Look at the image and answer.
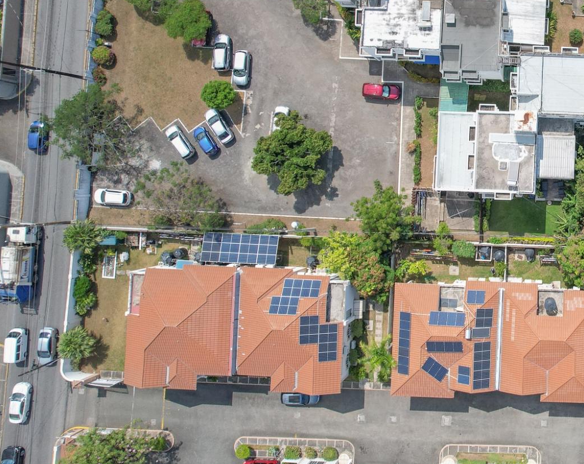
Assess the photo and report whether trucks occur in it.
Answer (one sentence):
Yes, there is a truck in the image.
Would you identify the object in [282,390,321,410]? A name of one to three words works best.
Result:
car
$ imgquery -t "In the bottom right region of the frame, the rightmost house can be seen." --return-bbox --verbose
[496,277,584,403]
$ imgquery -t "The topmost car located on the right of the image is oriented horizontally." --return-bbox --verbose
[363,82,402,101]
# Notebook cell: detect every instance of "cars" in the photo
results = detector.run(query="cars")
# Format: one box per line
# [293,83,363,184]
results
[10,381,34,423]
[2,325,29,367]
[232,52,251,85]
[282,390,321,410]
[28,120,50,154]
[204,109,236,146]
[273,105,289,120]
[363,82,402,101]
[213,36,233,70]
[193,125,222,158]
[2,442,25,464]
[36,326,60,366]
[96,190,131,207]
[243,457,282,464]
[164,123,197,161]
